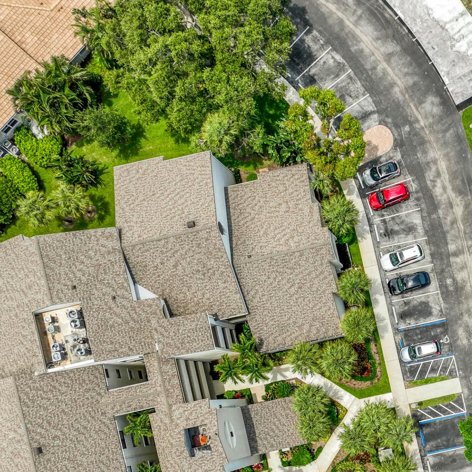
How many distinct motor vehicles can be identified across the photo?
five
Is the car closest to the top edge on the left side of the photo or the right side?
right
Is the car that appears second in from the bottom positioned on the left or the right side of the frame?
right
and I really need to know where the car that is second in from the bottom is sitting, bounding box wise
[388,271,432,297]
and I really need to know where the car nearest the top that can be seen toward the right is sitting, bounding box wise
[362,161,403,188]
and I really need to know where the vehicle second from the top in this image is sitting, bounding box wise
[369,185,412,213]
